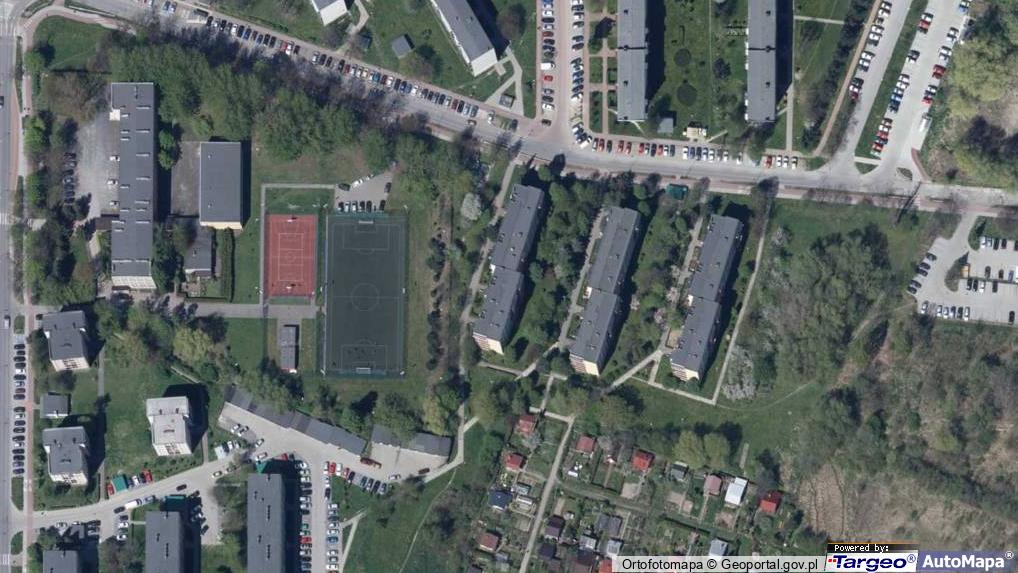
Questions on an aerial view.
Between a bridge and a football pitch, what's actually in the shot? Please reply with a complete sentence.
The one in the frame is a football pitch.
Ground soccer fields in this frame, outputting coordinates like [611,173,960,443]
[324,213,407,377]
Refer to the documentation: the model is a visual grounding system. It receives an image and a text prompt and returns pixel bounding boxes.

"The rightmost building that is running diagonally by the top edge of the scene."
[427,0,496,77]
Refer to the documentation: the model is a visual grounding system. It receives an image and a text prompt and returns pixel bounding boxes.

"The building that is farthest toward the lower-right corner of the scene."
[760,492,780,514]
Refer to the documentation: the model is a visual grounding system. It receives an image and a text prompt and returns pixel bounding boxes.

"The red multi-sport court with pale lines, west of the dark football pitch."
[265,214,319,303]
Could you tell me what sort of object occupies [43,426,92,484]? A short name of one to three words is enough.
building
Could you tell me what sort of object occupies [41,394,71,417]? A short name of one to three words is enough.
house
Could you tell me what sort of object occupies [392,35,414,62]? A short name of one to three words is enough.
shed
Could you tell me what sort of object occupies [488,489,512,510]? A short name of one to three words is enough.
house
